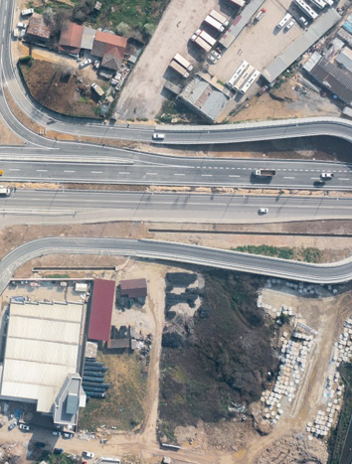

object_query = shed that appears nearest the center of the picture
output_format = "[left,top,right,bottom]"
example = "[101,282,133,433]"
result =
[118,278,148,297]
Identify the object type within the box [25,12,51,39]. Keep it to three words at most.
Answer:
shed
